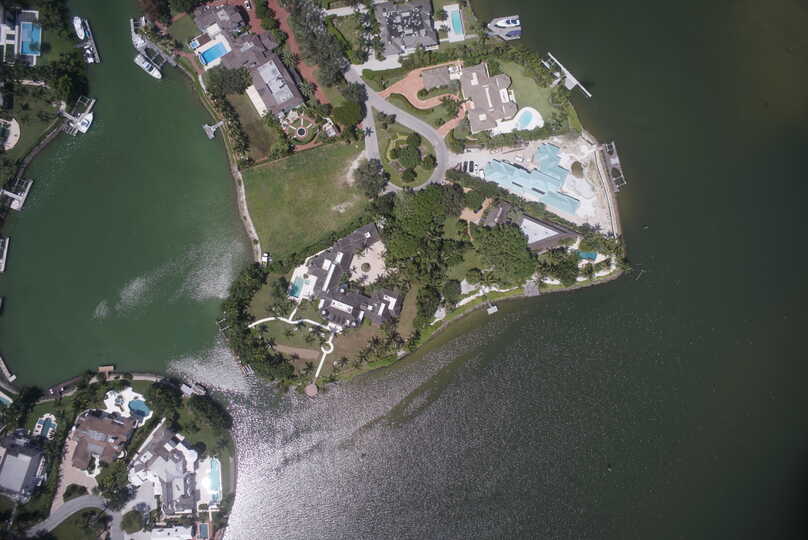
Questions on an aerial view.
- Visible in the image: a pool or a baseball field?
pool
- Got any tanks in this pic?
No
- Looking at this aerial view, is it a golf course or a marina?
marina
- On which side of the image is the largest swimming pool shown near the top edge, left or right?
left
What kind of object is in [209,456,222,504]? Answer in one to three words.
swimming pool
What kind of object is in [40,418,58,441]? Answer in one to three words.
swimming pool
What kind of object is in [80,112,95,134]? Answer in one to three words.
boat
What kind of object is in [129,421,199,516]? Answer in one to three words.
house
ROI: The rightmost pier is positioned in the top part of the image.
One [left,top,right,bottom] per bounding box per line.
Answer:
[600,141,627,194]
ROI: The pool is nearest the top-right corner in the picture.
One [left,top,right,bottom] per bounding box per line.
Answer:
[518,110,533,129]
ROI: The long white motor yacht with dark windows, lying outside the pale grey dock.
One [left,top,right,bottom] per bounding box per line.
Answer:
[133,52,162,79]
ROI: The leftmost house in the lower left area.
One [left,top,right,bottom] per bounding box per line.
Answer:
[0,429,45,497]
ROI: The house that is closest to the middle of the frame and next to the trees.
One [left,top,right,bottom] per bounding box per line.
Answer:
[307,223,402,327]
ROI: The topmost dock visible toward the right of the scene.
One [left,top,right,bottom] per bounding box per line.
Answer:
[487,14,522,40]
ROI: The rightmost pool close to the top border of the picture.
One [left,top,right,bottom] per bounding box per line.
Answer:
[450,9,465,35]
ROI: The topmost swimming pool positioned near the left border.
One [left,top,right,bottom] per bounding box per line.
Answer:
[21,22,41,55]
